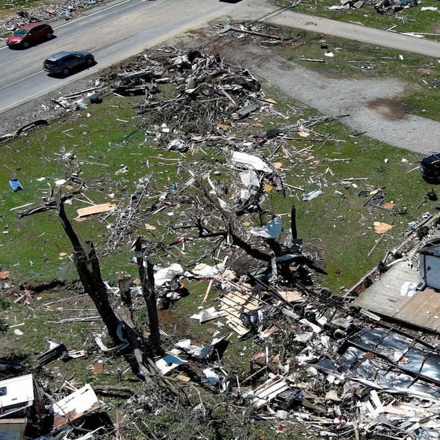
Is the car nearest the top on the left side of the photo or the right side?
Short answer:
left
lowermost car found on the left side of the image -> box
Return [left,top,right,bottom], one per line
[40,47,96,74]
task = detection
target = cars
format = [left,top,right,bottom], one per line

[416,146,440,181]
[4,18,57,46]
[40,47,96,74]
